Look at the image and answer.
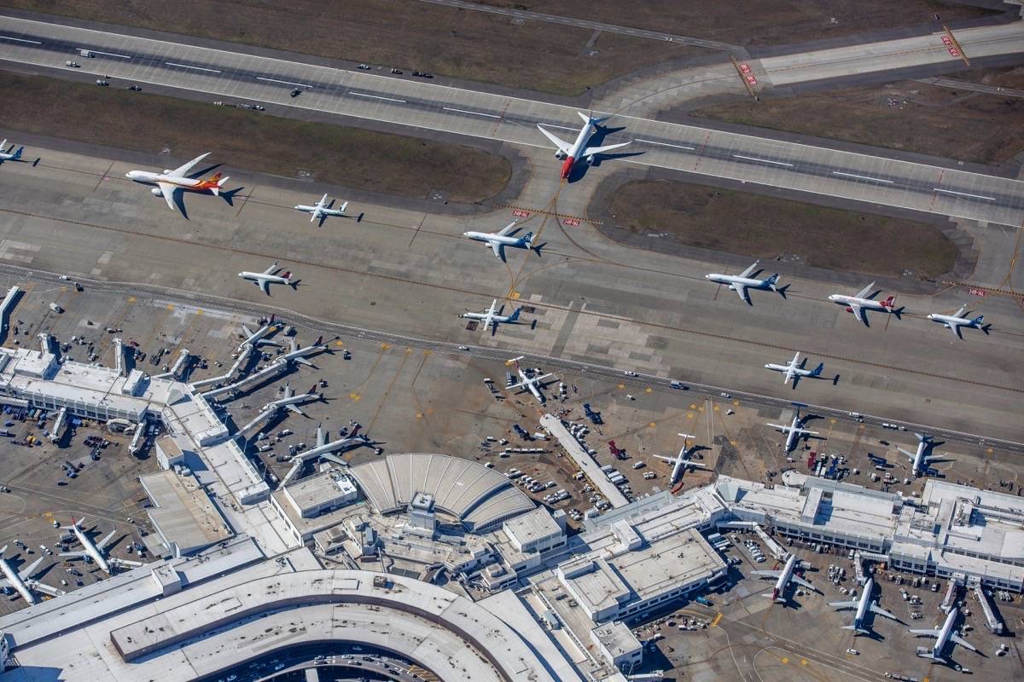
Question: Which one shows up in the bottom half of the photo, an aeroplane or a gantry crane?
aeroplane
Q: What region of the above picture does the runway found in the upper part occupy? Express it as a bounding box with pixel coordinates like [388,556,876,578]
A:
[0,15,1024,226]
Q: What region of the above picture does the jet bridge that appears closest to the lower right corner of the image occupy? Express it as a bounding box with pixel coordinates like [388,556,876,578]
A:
[973,587,1004,638]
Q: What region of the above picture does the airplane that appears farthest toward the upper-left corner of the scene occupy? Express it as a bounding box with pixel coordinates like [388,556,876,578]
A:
[0,138,23,159]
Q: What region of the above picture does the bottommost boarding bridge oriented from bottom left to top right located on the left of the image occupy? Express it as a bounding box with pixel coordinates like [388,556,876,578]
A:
[274,462,304,492]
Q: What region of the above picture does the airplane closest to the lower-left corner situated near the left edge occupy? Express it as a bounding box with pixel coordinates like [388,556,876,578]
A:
[0,549,44,604]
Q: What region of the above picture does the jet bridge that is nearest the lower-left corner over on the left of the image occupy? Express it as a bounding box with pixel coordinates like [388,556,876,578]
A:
[25,578,66,597]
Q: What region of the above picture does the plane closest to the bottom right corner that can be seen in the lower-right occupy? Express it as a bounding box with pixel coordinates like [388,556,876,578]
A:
[908,607,978,661]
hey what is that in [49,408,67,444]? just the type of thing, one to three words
jet bridge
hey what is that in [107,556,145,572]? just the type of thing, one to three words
jet bridge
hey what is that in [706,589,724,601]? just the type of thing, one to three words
vehicle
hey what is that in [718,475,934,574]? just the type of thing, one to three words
building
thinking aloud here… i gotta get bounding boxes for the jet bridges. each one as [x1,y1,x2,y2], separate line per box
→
[716,522,794,566]
[973,587,1004,638]
[114,338,125,372]
[39,332,50,353]
[188,345,253,391]
[937,578,956,614]
[128,424,145,460]
[274,462,304,492]
[637,670,668,682]
[25,578,66,597]
[230,408,278,444]
[854,550,887,588]
[153,350,190,382]
[107,556,145,572]
[49,408,67,444]
[201,360,288,400]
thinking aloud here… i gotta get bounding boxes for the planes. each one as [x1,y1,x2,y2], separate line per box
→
[651,436,704,485]
[927,305,983,338]
[535,101,630,177]
[908,607,978,661]
[465,219,534,257]
[460,301,517,332]
[287,419,372,468]
[749,554,816,602]
[761,352,820,384]
[234,307,287,353]
[828,281,895,320]
[238,259,292,292]
[123,150,231,208]
[508,360,557,405]
[272,329,333,371]
[765,407,818,455]
[0,138,23,159]
[292,194,346,223]
[262,375,324,419]
[54,513,119,572]
[707,261,778,300]
[826,578,898,632]
[892,430,948,478]
[0,549,44,604]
